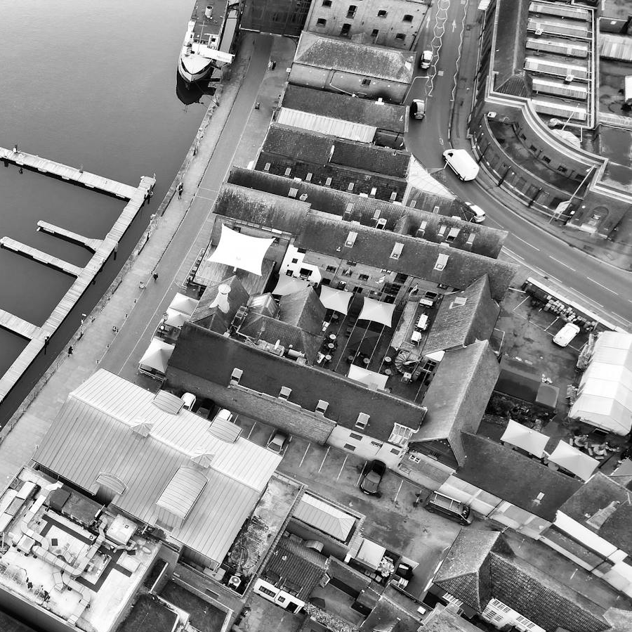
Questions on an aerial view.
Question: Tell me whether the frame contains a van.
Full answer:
Yes, the photo shows a van.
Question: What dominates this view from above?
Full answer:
Most of the picture is covered by buildings.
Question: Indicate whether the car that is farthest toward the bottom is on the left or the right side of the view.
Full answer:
The car that is farthest toward the bottom is on the right side of the image.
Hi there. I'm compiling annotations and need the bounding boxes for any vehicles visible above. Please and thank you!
[359,459,390,494]
[411,100,425,121]
[552,323,580,347]
[196,394,217,421]
[418,53,434,71]
[441,150,485,182]
[214,403,235,419]
[466,202,488,223]
[264,424,291,455]
[424,486,469,524]
[182,386,197,411]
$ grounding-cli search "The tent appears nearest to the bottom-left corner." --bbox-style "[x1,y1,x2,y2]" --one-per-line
[137,337,176,387]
